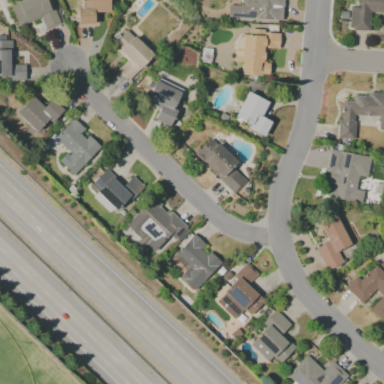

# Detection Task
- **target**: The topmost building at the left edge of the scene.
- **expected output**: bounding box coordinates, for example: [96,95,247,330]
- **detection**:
[12,0,62,28]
